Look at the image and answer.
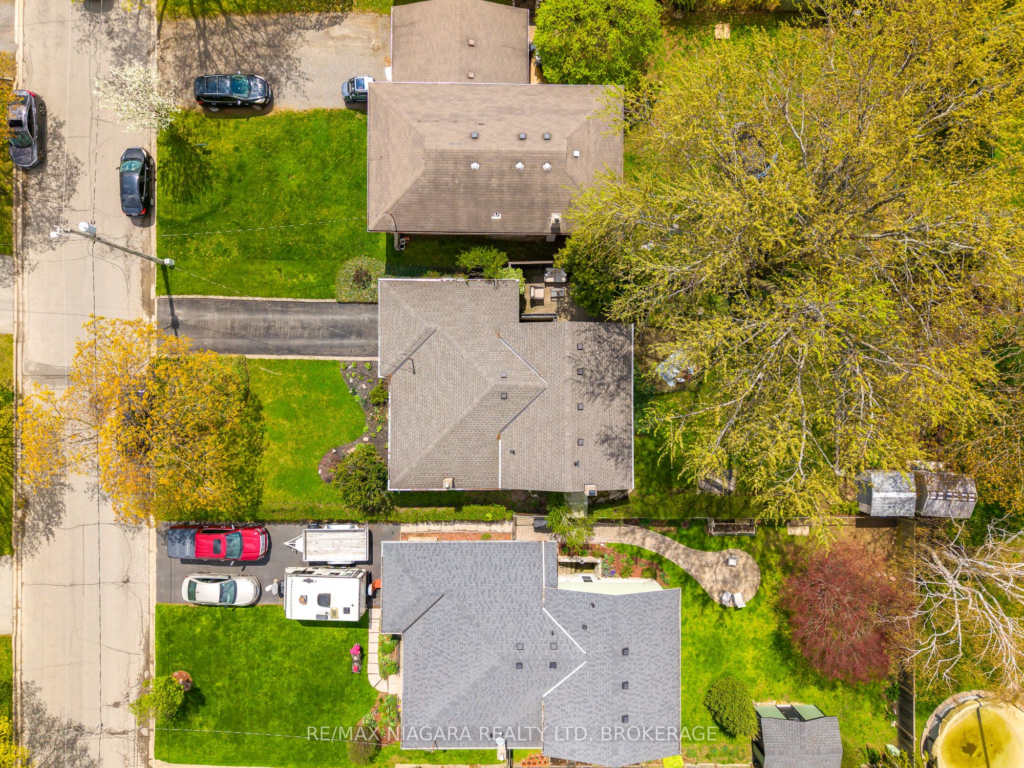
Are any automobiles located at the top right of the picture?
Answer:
No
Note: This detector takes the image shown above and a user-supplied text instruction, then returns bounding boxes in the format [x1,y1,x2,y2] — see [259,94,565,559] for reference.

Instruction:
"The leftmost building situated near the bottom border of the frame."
[379,538,684,764]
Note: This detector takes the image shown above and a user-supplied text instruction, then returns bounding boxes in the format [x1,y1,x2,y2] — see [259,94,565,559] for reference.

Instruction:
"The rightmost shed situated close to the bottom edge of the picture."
[751,703,845,768]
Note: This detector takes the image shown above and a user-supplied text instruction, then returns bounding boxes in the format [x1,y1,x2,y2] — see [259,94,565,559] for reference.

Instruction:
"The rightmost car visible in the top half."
[340,71,390,111]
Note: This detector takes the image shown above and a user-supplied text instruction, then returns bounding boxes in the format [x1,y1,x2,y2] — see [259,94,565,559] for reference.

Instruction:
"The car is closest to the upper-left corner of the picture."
[4,90,50,173]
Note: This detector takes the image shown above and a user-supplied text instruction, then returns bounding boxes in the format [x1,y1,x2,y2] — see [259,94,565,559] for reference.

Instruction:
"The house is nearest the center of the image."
[376,277,636,496]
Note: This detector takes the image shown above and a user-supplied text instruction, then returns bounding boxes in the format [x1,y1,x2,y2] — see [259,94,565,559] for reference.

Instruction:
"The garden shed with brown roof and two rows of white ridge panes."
[915,471,980,516]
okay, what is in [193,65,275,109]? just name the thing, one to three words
car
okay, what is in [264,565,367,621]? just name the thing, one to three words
trailer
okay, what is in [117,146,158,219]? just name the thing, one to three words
car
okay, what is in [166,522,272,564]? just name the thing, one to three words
truck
